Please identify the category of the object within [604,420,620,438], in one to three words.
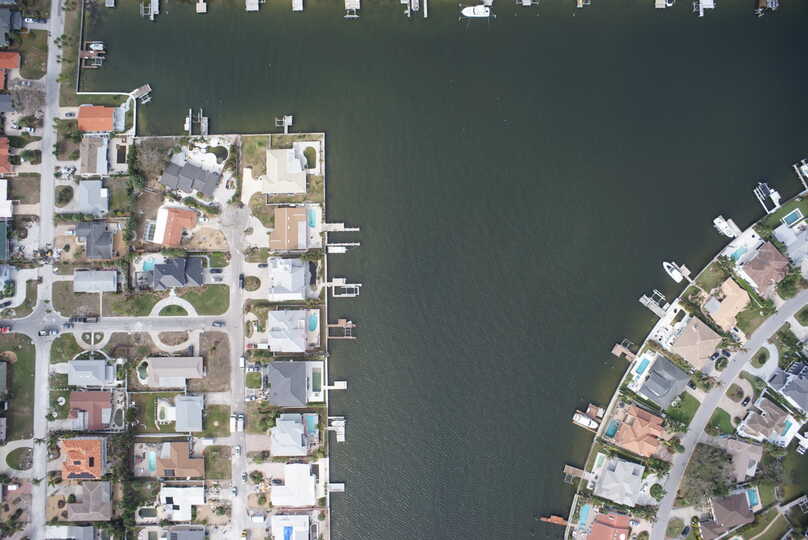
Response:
swimming pool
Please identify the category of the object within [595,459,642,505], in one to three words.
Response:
house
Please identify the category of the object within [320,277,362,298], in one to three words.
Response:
pier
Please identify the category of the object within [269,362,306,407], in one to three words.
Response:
house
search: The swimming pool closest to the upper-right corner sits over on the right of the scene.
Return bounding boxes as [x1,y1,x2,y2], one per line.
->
[784,208,803,226]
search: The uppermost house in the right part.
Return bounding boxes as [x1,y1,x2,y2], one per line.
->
[772,214,808,267]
